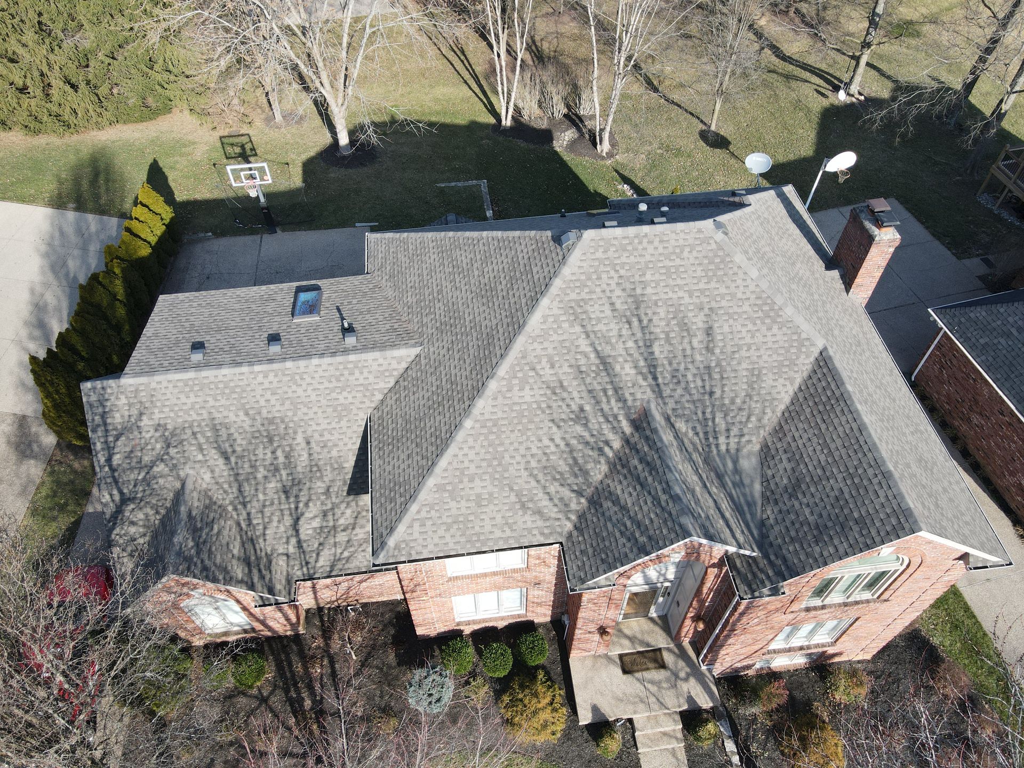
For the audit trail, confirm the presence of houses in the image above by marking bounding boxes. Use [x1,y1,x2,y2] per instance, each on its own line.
[80,184,1017,681]
[909,286,1024,513]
